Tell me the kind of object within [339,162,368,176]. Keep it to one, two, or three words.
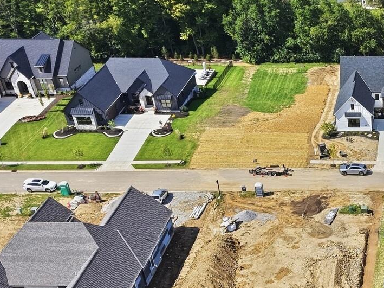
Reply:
vehicle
